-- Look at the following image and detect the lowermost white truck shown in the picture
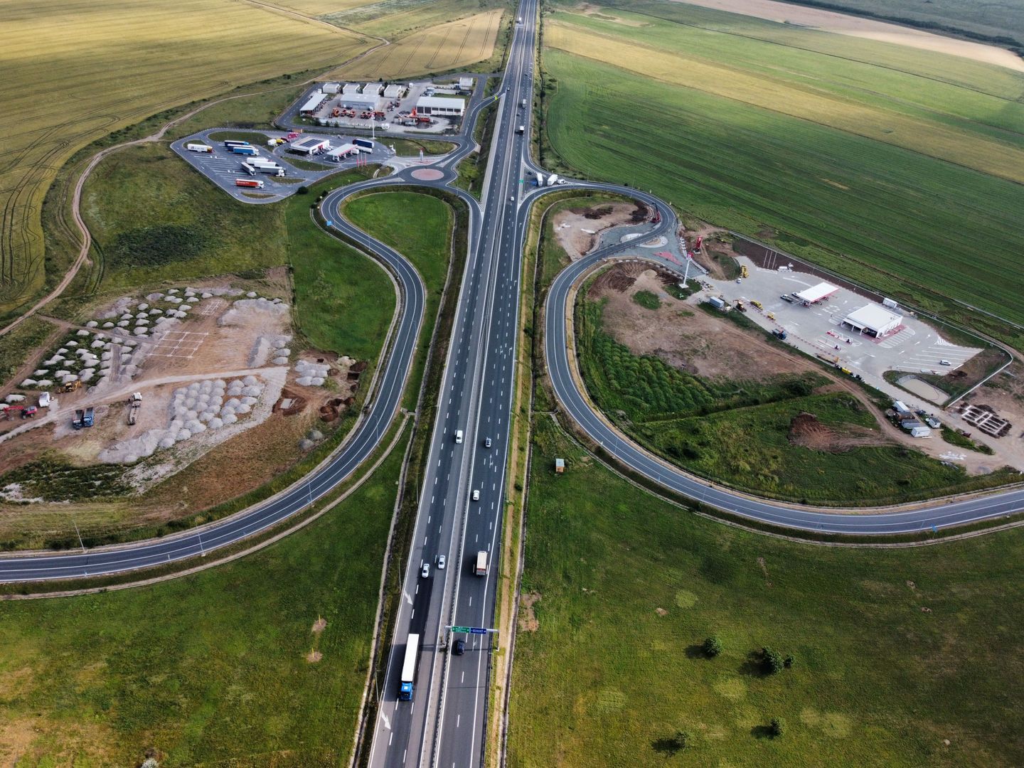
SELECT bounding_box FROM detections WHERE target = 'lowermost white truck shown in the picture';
[398,631,419,698]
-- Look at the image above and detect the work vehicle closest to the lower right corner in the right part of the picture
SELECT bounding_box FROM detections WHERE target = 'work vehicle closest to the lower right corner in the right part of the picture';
[955,427,979,441]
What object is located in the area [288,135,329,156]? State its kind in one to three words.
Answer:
building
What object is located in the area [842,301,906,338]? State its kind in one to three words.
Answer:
building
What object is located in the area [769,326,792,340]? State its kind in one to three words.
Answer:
vehicle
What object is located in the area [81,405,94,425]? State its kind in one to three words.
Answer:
vehicle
